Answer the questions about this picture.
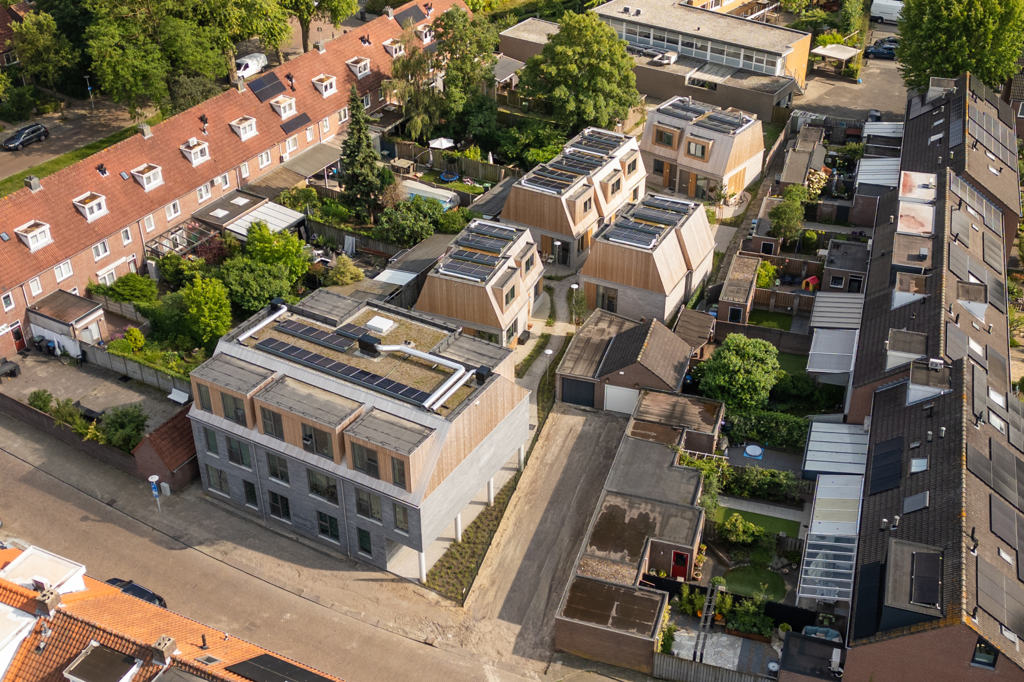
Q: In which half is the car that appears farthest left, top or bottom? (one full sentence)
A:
The car that appears farthest left is in the top half of the image.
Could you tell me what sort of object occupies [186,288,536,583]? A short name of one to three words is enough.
building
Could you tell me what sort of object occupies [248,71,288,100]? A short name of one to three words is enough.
solar array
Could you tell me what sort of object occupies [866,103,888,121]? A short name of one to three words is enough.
car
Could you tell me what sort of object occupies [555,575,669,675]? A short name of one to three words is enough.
building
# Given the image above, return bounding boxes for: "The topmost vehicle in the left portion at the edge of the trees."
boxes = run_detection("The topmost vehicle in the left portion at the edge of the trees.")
[233,50,269,78]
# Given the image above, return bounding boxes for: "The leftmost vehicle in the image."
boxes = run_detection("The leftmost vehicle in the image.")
[0,123,50,151]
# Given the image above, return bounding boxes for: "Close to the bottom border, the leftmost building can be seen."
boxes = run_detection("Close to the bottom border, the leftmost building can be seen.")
[0,538,355,682]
